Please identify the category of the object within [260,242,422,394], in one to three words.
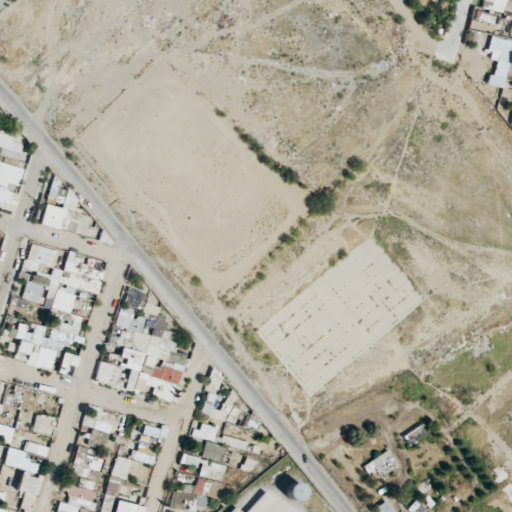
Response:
sports court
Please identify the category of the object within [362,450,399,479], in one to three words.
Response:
house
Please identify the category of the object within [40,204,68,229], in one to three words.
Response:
house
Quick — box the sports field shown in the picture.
[96,68,310,282]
